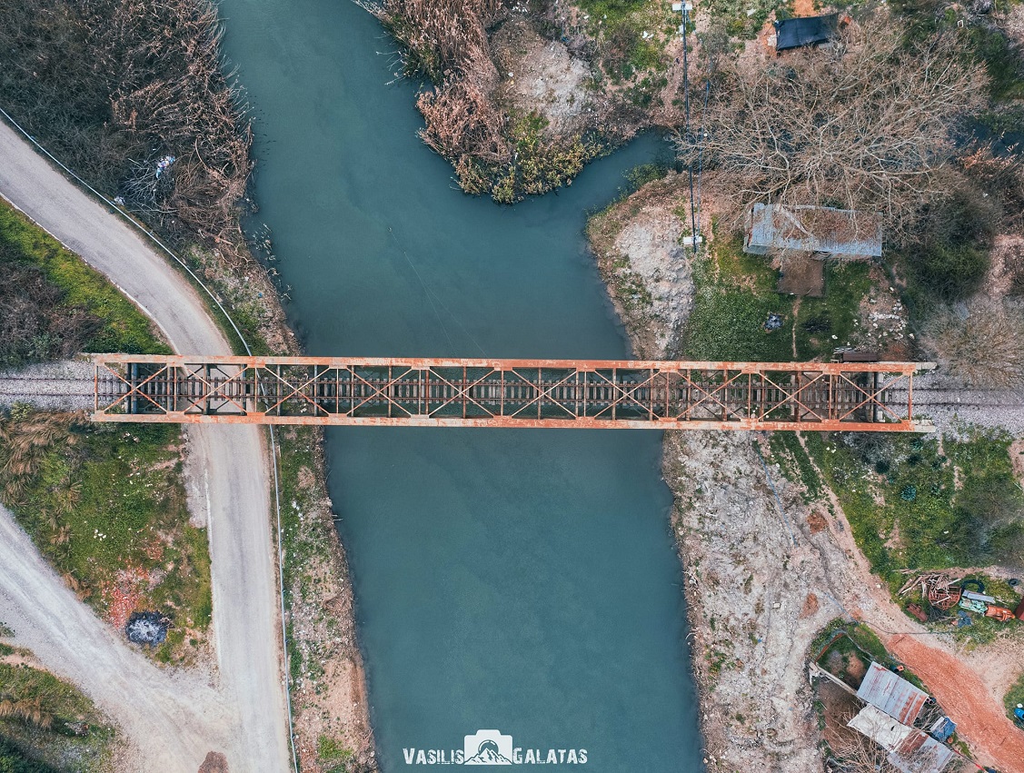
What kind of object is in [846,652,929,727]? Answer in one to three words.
shed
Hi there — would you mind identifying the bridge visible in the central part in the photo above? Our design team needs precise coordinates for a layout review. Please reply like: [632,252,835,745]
[88,355,915,433]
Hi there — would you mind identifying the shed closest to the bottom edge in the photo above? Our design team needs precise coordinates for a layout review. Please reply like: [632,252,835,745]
[874,722,954,773]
